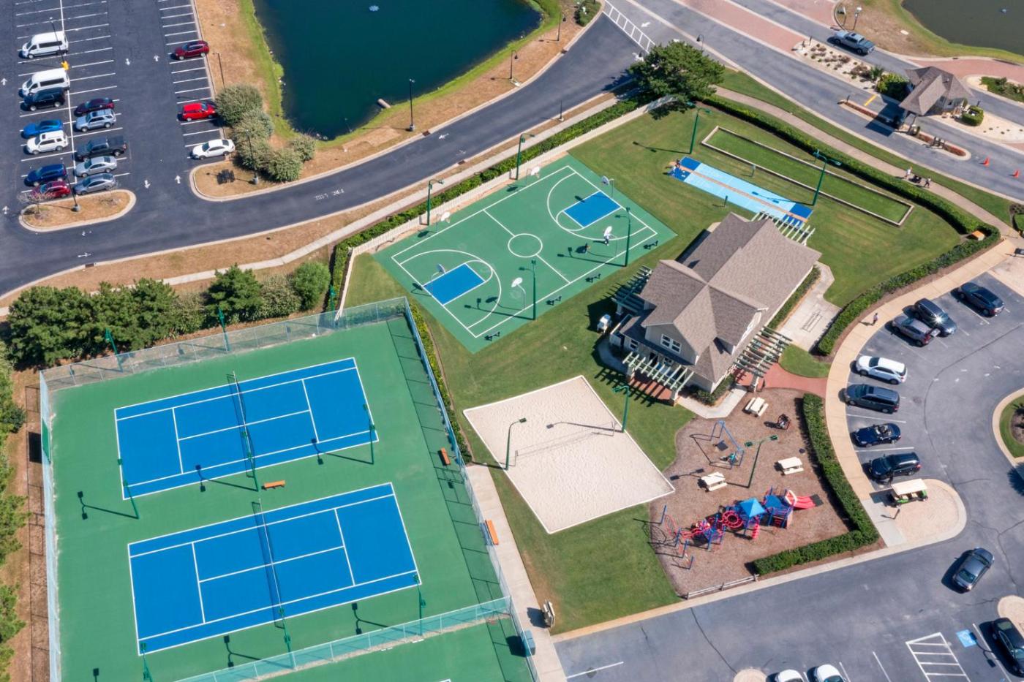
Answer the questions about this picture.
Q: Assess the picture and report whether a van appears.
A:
Yes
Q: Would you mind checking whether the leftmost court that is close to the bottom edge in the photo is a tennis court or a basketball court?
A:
tennis court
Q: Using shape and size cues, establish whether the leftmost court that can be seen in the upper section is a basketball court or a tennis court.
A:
basketball court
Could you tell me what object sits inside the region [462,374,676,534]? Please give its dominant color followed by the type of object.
white sports court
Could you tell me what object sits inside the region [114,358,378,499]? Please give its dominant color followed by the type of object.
blue tennis court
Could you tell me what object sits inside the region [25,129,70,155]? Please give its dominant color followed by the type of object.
white car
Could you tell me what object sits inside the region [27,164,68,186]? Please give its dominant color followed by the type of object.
blue car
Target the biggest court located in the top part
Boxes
[373,153,677,353]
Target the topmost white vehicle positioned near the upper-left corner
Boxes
[22,29,71,58]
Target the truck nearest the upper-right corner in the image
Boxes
[832,30,876,54]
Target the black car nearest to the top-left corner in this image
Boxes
[24,88,65,110]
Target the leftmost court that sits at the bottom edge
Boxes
[128,483,420,655]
